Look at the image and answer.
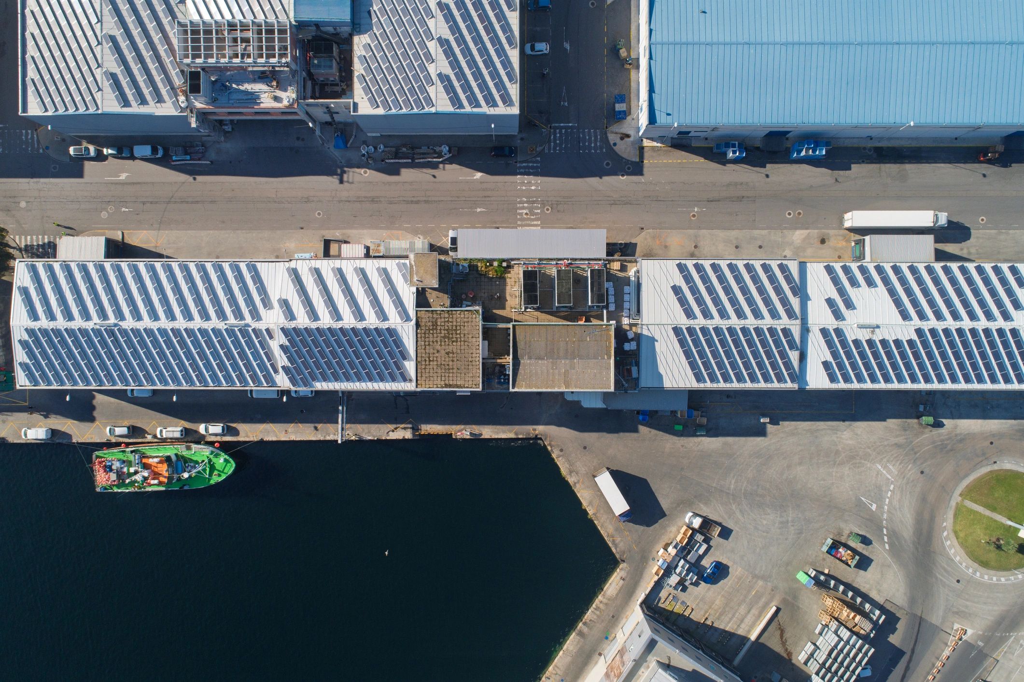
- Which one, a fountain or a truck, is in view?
truck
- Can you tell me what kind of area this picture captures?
industrial area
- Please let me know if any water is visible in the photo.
Yes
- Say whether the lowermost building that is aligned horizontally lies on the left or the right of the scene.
right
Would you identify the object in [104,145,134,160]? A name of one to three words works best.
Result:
car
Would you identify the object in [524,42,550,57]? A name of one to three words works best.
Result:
car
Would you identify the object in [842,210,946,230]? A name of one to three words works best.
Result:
vehicle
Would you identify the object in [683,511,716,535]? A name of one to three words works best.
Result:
truck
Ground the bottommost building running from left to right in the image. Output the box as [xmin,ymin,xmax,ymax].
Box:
[570,603,766,682]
